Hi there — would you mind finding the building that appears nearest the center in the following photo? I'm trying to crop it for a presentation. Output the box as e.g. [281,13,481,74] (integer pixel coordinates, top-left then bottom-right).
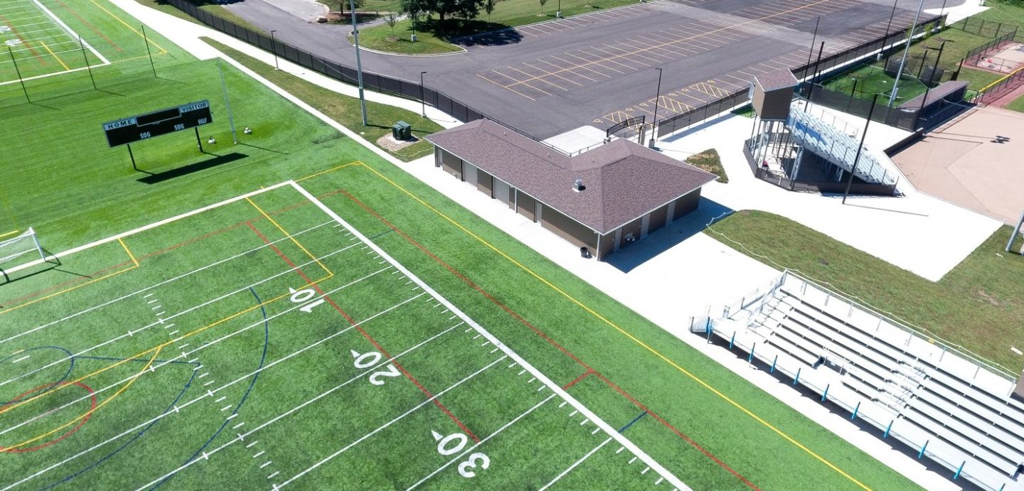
[424,118,719,262]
